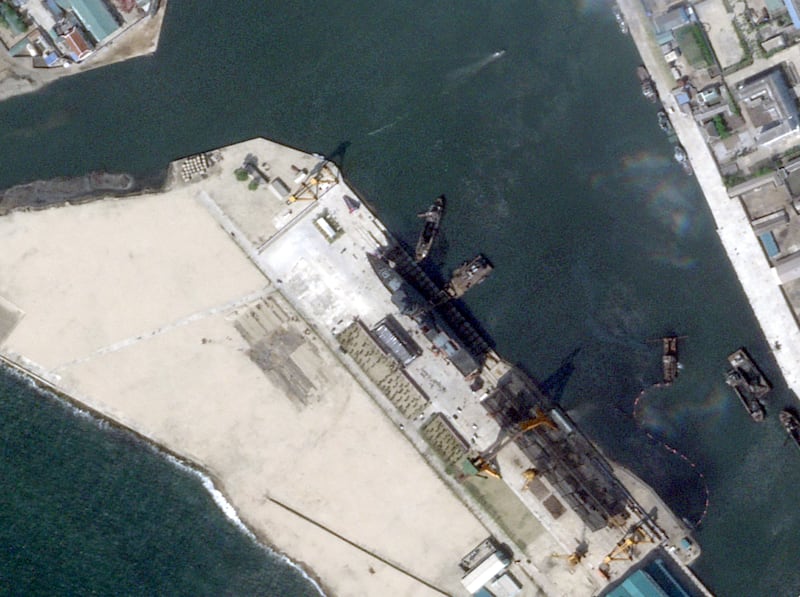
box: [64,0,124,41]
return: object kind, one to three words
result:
building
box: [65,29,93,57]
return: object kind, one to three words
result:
house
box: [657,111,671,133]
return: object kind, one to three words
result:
boat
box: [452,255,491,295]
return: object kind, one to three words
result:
ship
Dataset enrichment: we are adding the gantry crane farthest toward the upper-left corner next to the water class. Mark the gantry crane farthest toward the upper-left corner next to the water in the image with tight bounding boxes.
[286,163,339,206]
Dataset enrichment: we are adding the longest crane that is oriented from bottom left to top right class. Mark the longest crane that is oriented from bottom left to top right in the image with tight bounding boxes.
[478,410,559,481]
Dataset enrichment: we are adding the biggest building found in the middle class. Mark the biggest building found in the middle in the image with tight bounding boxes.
[377,324,420,364]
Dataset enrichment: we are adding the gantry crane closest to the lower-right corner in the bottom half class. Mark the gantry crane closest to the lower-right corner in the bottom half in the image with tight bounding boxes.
[603,526,655,563]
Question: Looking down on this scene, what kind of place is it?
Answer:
port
